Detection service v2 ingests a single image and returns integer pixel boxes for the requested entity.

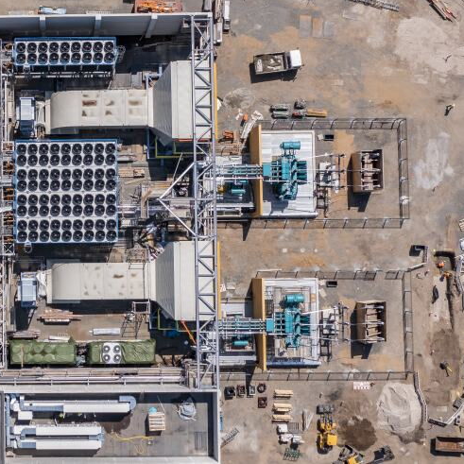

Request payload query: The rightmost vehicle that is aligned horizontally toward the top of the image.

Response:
[249,52,303,77]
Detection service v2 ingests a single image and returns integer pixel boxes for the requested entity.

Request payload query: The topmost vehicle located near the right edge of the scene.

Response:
[435,259,450,275]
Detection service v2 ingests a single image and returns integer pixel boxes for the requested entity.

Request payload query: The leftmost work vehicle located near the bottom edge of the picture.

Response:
[316,404,340,453]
